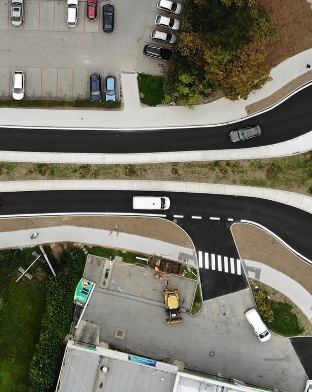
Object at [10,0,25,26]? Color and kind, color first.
gray car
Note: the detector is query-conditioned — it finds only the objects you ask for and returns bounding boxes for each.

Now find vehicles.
[86,0,99,21]
[101,4,116,32]
[163,272,183,326]
[155,14,180,30]
[64,0,80,27]
[229,126,261,143]
[133,196,169,211]
[10,0,25,26]
[304,379,312,392]
[151,28,177,44]
[89,73,103,102]
[103,75,118,102]
[244,306,270,341]
[11,71,25,101]
[156,0,182,14]
[143,44,172,60]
